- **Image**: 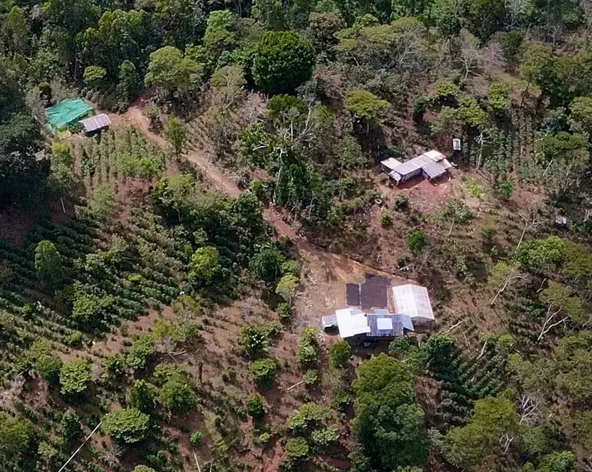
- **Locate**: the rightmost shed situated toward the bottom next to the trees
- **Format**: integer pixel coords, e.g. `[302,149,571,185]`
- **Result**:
[390,285,434,332]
